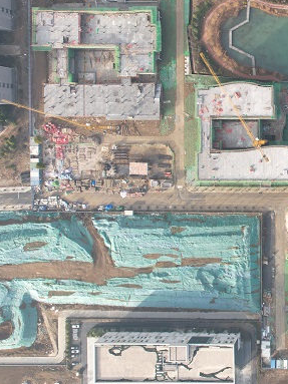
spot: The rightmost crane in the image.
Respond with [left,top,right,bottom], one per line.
[201,53,270,162]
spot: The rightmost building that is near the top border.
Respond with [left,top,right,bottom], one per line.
[33,8,166,86]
